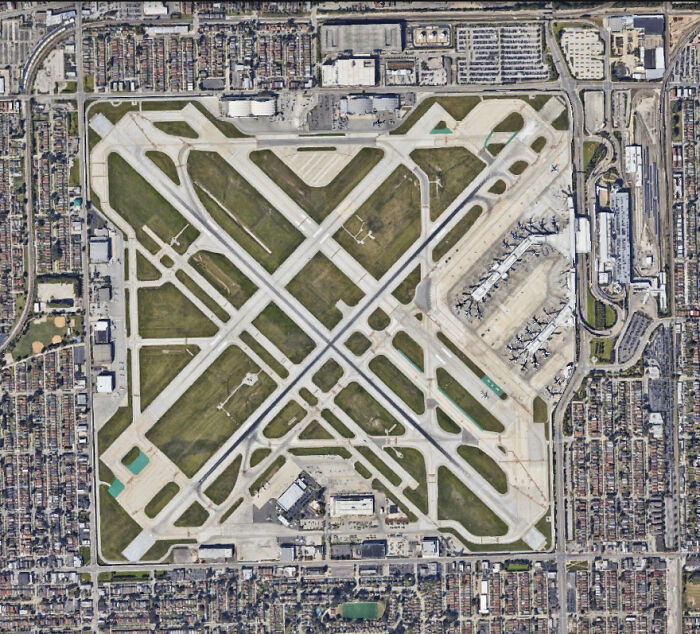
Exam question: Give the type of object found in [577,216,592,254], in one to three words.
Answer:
building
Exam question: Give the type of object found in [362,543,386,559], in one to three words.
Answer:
hangar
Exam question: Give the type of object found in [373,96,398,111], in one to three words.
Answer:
hangar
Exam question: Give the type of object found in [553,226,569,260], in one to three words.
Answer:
building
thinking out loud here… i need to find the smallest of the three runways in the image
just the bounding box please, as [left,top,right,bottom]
[228,146,405,321]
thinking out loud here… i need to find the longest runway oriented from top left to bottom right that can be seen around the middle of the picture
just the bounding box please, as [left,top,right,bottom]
[123,141,532,542]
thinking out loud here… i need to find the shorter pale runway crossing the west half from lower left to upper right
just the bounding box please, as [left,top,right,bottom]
[126,153,396,440]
